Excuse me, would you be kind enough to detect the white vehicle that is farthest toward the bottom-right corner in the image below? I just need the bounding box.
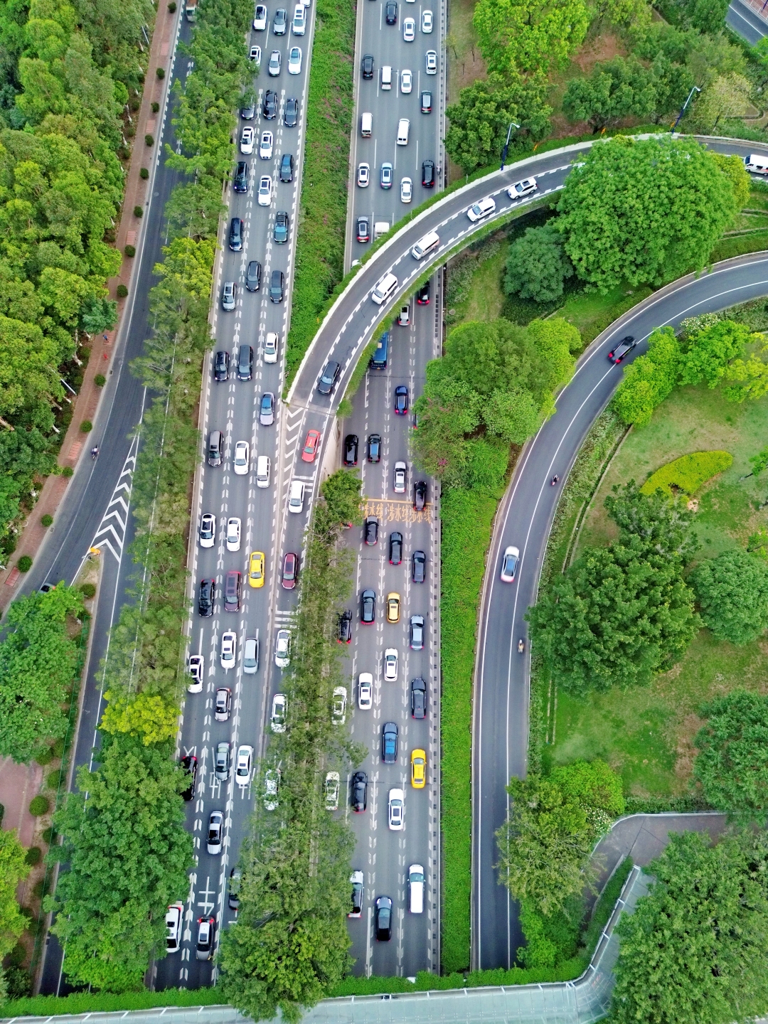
[406,861,427,916]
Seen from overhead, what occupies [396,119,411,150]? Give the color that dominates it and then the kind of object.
white vehicle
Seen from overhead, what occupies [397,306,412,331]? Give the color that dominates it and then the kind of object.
gray car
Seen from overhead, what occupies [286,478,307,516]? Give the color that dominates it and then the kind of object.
white car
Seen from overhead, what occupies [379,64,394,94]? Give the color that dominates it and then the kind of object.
white vehicle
